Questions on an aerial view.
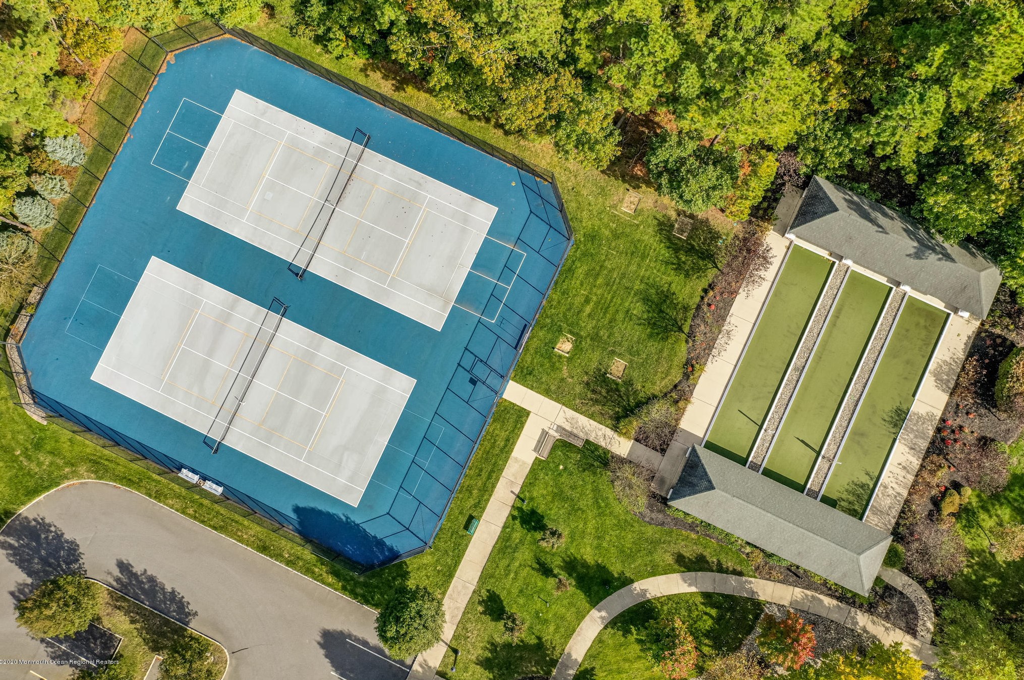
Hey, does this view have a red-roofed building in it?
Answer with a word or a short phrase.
No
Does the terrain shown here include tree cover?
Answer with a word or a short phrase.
Yes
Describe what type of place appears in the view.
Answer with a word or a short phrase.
sports ground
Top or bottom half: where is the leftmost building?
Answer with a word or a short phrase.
bottom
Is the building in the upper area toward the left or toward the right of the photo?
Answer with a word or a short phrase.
right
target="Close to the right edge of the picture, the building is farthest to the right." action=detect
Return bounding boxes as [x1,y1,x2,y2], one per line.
[783,175,1005,320]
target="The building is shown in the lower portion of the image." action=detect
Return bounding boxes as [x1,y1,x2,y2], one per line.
[666,444,892,597]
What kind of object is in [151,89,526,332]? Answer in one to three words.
tennis court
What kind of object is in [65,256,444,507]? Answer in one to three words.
tennis court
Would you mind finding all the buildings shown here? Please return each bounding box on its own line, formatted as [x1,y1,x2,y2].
[783,175,1005,320]
[666,444,892,597]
